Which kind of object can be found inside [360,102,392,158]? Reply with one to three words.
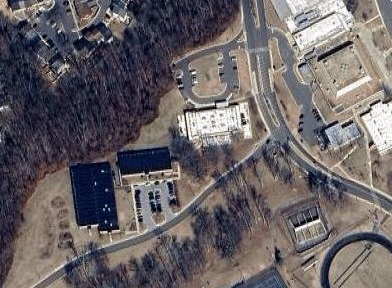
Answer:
building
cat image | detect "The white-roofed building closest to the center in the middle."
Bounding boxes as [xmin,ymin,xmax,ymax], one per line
[178,103,252,148]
